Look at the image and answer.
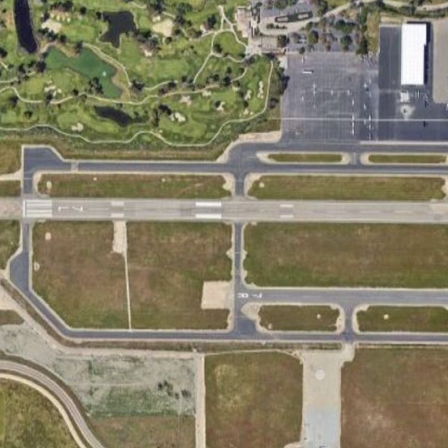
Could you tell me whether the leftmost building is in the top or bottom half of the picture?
top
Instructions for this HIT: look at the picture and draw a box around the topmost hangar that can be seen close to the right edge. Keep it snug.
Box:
[401,23,426,85]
